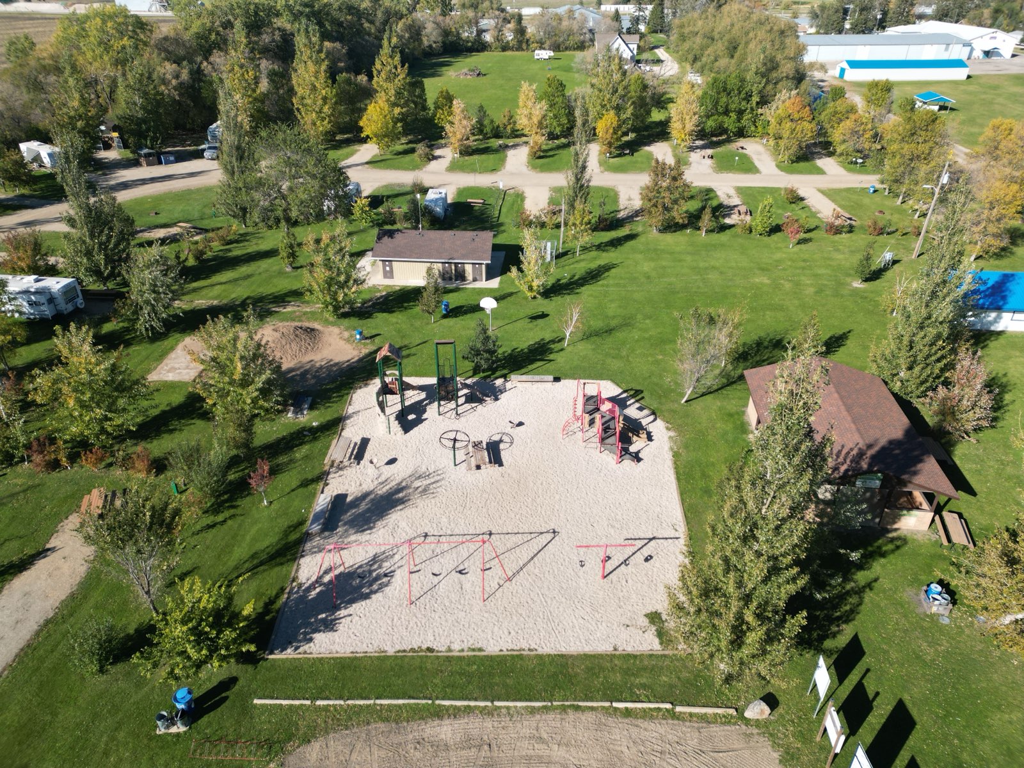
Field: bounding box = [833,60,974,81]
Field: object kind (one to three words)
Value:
shed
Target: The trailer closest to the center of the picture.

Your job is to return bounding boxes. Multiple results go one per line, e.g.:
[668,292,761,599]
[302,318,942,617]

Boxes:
[426,177,455,218]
